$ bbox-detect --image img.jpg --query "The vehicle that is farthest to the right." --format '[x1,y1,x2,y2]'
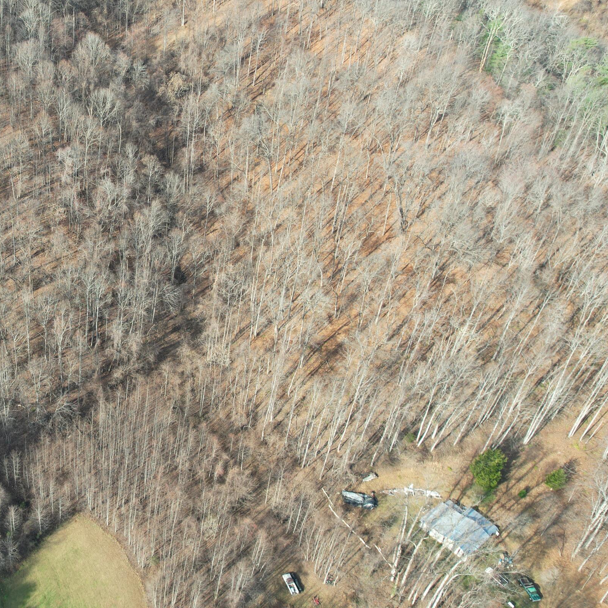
[517,576,540,601]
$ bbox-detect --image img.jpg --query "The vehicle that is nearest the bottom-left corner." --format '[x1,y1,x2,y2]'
[280,573,300,598]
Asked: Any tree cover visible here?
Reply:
Yes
